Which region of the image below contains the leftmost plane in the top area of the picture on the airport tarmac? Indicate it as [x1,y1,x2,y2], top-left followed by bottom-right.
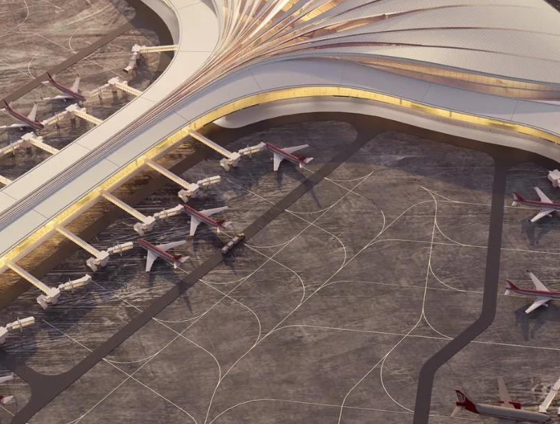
[0,89,42,126]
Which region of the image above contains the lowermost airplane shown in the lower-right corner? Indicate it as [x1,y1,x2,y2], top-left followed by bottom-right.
[450,367,551,424]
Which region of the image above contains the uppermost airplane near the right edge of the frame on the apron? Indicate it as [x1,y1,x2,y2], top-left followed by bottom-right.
[513,176,560,215]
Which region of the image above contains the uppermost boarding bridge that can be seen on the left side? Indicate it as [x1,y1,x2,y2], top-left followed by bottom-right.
[124,45,177,76]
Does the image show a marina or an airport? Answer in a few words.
airport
